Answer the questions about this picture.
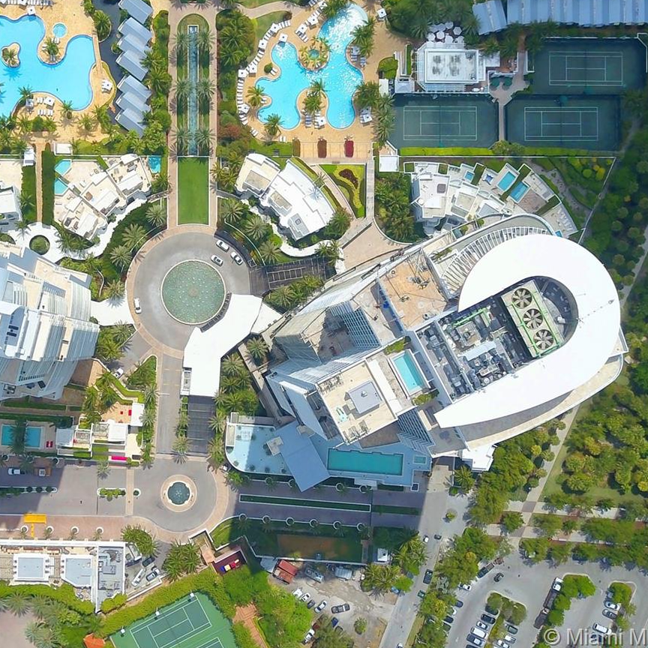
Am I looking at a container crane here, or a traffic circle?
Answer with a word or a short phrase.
traffic circle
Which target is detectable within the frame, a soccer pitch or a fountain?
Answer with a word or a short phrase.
fountain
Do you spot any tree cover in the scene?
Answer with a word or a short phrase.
Yes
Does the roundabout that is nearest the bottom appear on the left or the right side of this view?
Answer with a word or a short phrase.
left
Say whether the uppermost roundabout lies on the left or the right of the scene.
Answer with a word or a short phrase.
left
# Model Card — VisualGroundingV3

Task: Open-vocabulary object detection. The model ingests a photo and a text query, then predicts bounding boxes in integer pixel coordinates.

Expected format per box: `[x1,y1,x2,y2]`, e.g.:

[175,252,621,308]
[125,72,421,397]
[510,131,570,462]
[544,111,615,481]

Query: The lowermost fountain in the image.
[159,476,198,514]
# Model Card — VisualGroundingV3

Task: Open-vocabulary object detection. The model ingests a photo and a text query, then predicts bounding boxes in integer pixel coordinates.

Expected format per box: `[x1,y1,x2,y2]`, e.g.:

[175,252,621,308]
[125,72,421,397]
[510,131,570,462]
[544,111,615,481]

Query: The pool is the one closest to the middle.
[394,353,424,391]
